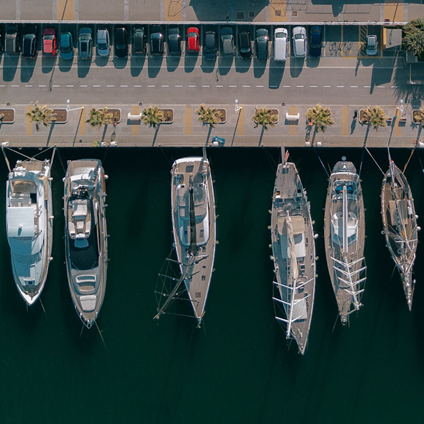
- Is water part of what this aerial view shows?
Yes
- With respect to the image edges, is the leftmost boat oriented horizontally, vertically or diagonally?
vertically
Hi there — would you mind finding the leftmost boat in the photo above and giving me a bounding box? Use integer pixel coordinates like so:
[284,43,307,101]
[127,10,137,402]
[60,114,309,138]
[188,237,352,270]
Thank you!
[1,147,56,312]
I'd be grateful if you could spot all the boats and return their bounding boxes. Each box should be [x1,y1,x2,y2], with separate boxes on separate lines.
[315,148,372,329]
[149,147,219,343]
[265,146,319,356]
[57,149,109,346]
[365,142,422,310]
[1,147,56,312]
